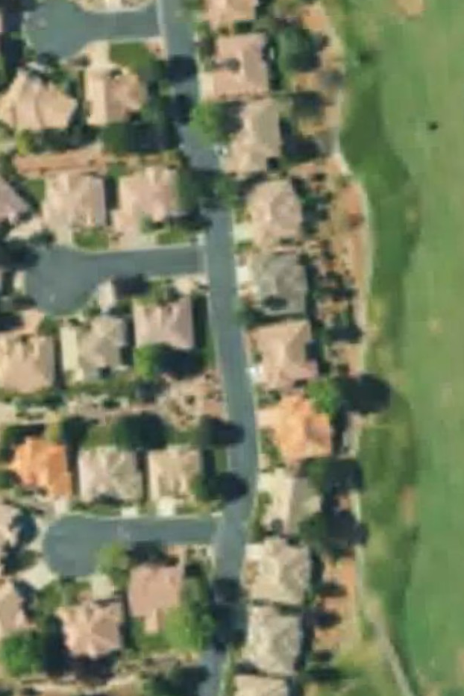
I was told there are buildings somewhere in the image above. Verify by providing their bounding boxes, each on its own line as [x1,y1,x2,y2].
[270,396,332,461]
[0,176,28,231]
[0,504,22,572]
[247,321,317,386]
[245,537,311,607]
[7,437,71,499]
[212,31,269,99]
[0,579,37,645]
[78,445,145,504]
[261,469,316,533]
[43,174,107,232]
[197,0,258,23]
[132,300,195,351]
[241,609,304,675]
[237,676,289,696]
[147,449,203,504]
[0,331,56,393]
[78,315,129,381]
[56,604,125,658]
[245,180,302,251]
[252,253,309,317]
[127,565,185,635]
[0,66,75,134]
[114,169,175,232]
[85,69,145,126]
[225,98,284,170]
